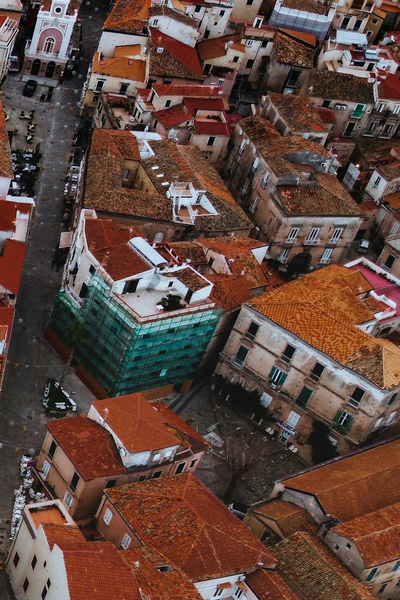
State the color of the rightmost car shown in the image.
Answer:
black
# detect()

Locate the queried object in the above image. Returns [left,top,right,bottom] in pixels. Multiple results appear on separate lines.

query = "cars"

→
[220,493,253,523]
[25,82,37,94]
